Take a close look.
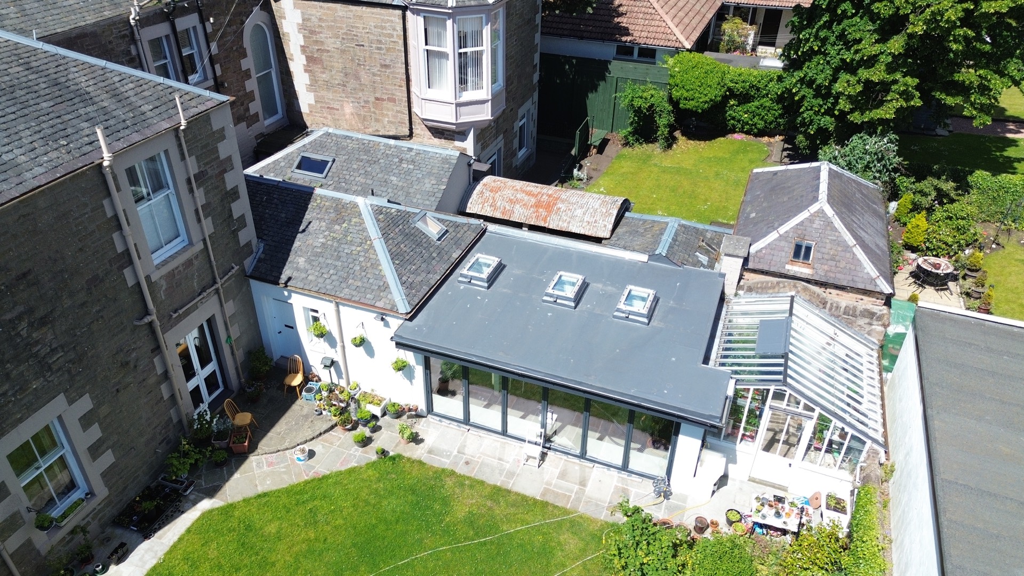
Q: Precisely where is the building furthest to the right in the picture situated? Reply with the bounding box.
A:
[889,304,1024,576]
